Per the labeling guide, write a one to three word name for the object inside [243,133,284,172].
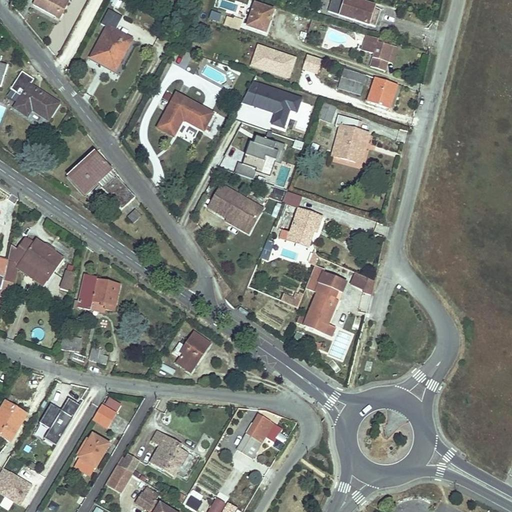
house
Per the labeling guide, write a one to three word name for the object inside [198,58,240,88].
swimming pool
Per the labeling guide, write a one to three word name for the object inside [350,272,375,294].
building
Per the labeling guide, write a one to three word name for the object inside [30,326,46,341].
swimming pool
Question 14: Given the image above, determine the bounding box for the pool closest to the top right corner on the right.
[322,28,365,48]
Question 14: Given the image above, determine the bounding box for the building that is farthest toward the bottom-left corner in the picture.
[0,468,32,506]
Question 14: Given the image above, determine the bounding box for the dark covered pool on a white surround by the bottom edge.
[184,490,204,512]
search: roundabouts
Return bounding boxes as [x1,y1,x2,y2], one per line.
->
[300,372,462,512]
